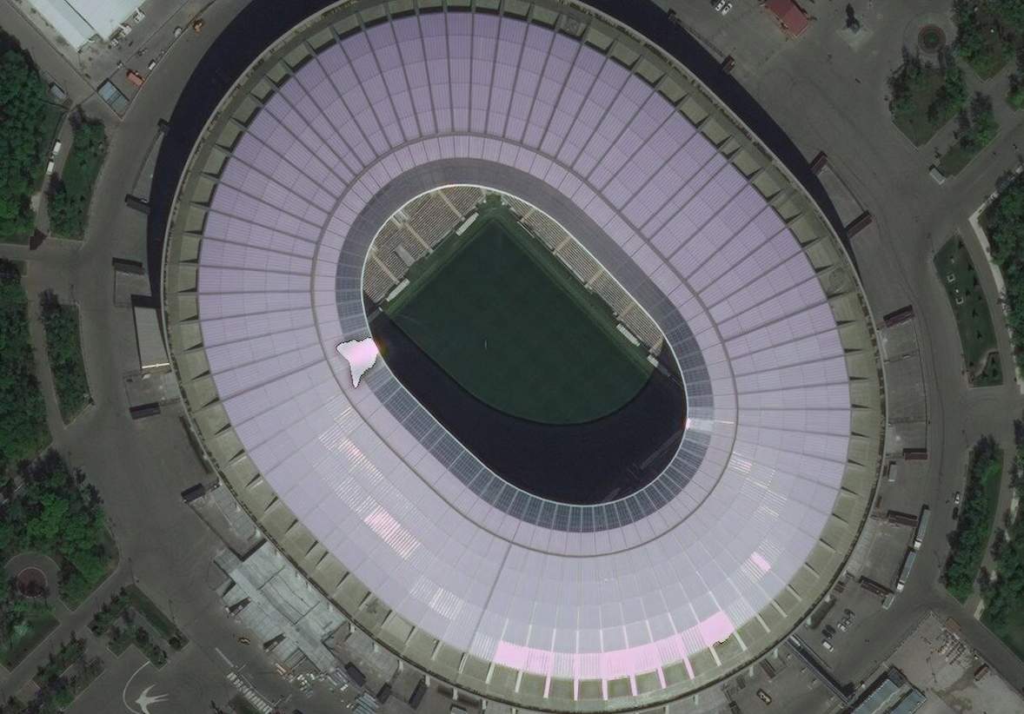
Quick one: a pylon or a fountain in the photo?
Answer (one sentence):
Visible in the photo is a fountain.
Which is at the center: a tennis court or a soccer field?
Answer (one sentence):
You can see a soccer field at the center.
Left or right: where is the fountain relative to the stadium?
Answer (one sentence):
In the image, the fountain sits on the right side of the stadium.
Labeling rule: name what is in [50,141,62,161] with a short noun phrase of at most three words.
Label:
vehicle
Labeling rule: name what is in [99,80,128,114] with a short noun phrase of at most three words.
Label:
shed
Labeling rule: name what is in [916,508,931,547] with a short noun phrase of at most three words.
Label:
vehicle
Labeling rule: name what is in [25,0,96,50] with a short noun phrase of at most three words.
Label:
building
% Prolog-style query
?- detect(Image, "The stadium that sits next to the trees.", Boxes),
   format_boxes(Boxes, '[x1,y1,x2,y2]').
[161,0,889,714]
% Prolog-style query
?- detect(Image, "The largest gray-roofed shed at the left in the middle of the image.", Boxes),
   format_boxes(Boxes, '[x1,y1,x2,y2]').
[135,307,169,369]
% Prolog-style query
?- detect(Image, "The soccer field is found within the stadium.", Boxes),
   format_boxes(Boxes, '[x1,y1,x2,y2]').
[369,188,686,505]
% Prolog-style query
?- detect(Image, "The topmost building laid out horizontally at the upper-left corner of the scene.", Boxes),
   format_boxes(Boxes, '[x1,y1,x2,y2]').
[65,0,150,42]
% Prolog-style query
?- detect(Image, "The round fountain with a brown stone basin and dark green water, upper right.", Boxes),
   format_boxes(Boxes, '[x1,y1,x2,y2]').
[918,25,946,53]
